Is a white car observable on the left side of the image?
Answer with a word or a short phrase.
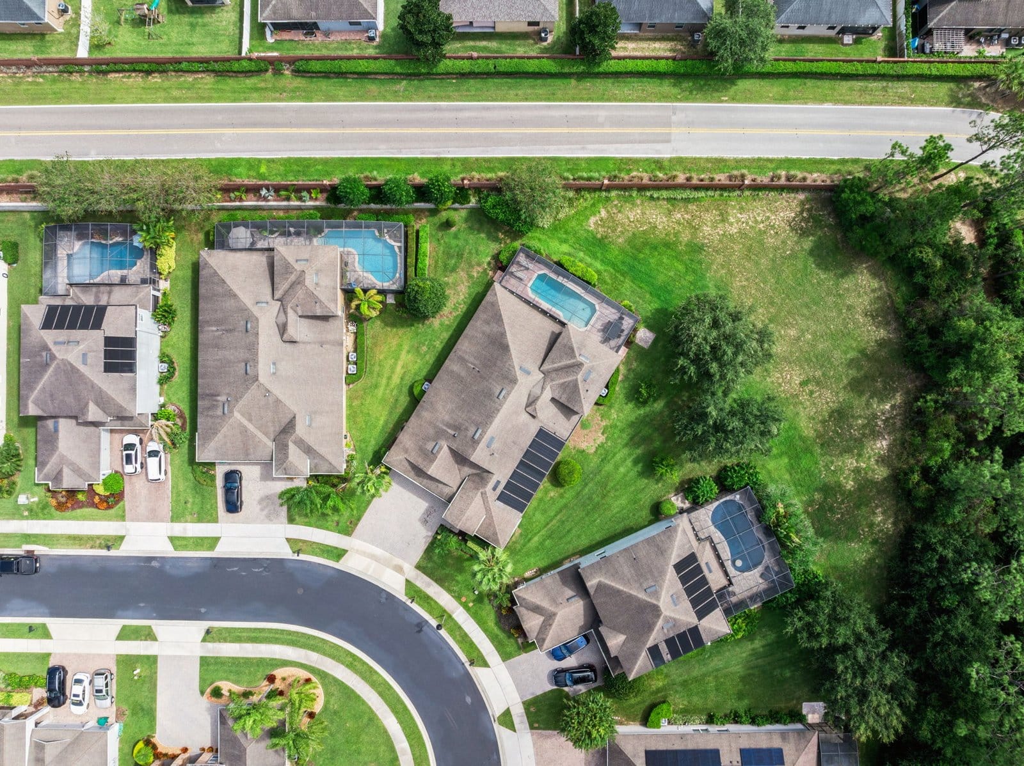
Yes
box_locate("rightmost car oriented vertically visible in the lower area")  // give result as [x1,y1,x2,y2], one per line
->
[223,470,244,513]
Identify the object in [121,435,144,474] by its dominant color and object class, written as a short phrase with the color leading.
white car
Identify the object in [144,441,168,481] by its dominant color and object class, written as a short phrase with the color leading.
white car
